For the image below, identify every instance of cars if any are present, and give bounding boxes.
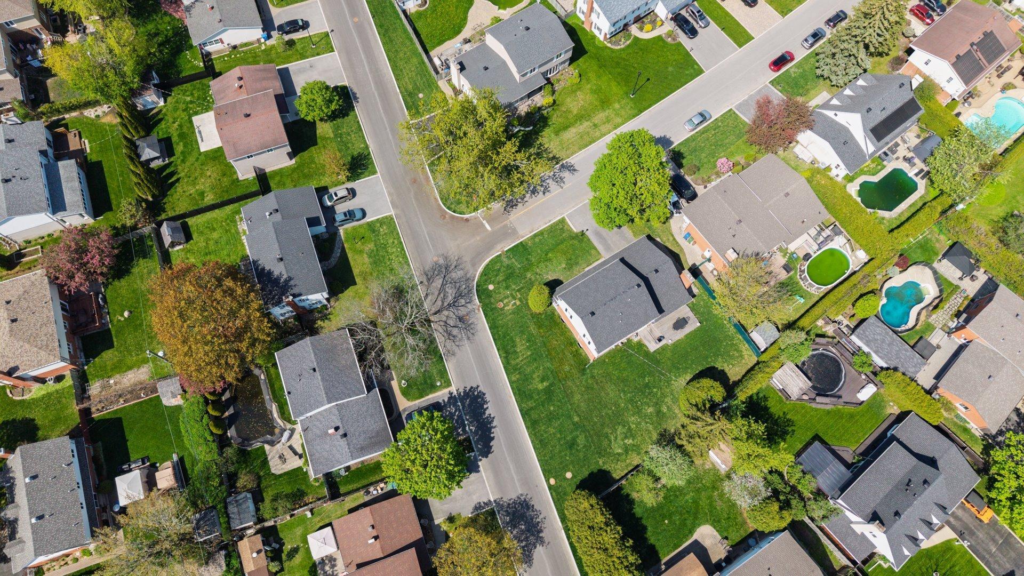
[672,14,698,39]
[961,490,994,525]
[683,110,712,132]
[321,186,354,209]
[909,4,935,26]
[800,28,827,50]
[917,0,947,19]
[405,399,442,424]
[665,191,684,219]
[768,51,795,73]
[276,18,306,37]
[668,172,699,203]
[822,10,849,31]
[685,4,710,29]
[332,208,366,228]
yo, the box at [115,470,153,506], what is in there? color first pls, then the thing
white gazebo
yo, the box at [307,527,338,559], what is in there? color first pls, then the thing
white gazebo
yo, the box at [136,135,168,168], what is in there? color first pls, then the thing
gray gazebo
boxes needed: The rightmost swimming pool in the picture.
[965,96,1024,148]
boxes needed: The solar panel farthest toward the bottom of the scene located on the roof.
[871,100,916,142]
